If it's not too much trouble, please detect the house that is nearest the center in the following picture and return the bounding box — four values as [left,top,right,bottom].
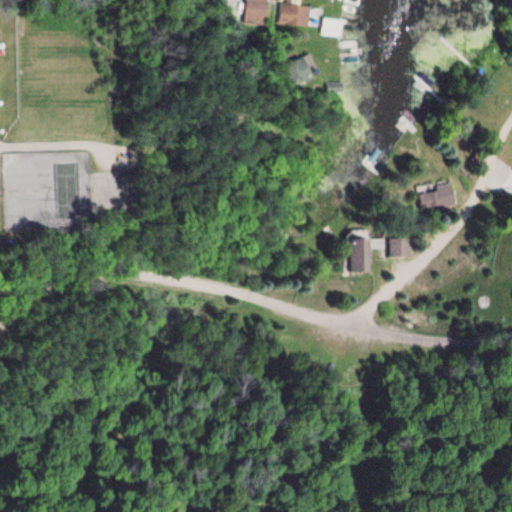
[350,238,372,273]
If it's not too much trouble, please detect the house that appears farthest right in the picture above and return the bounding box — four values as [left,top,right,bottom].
[416,178,455,209]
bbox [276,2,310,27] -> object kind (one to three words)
house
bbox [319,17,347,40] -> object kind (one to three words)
building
